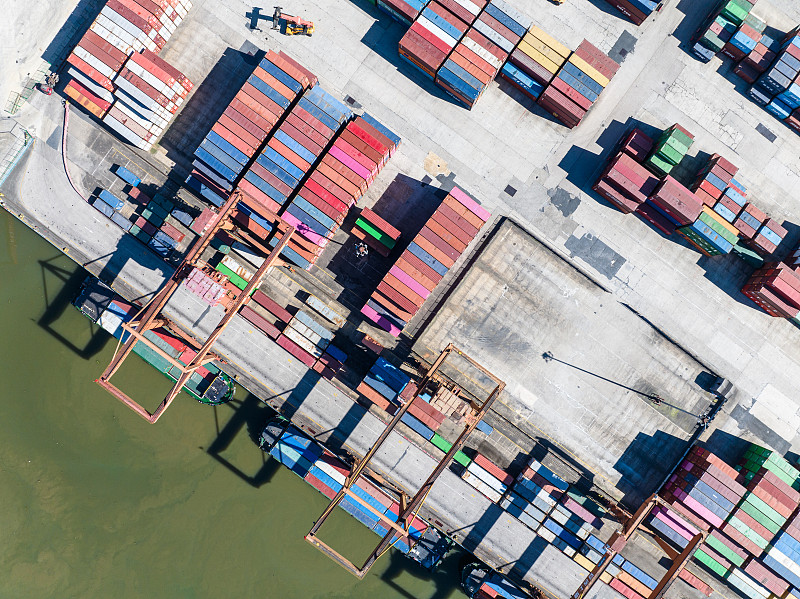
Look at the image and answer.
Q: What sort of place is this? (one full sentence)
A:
It's a port.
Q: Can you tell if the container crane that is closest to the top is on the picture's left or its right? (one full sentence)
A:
The container crane that is closest to the top appears in the left half of the scene.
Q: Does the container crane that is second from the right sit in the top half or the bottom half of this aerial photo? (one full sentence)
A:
The container crane that is second from the right is in the bottom half of the image.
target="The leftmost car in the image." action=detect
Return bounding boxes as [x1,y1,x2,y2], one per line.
[34,81,51,95]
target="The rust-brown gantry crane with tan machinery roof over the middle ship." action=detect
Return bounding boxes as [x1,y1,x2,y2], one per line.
[303,339,508,579]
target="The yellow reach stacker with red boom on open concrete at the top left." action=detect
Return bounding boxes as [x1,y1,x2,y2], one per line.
[266,0,316,34]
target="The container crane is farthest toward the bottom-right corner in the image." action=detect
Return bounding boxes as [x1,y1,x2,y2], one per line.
[523,487,713,599]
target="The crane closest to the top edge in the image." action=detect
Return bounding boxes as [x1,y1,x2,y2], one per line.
[92,184,300,423]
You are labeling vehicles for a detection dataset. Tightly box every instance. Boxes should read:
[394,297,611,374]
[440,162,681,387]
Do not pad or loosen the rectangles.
[34,81,51,95]
[266,0,316,34]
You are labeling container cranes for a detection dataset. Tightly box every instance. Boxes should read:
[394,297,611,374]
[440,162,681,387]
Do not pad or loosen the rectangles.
[92,184,300,423]
[303,339,508,579]
[523,487,713,599]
